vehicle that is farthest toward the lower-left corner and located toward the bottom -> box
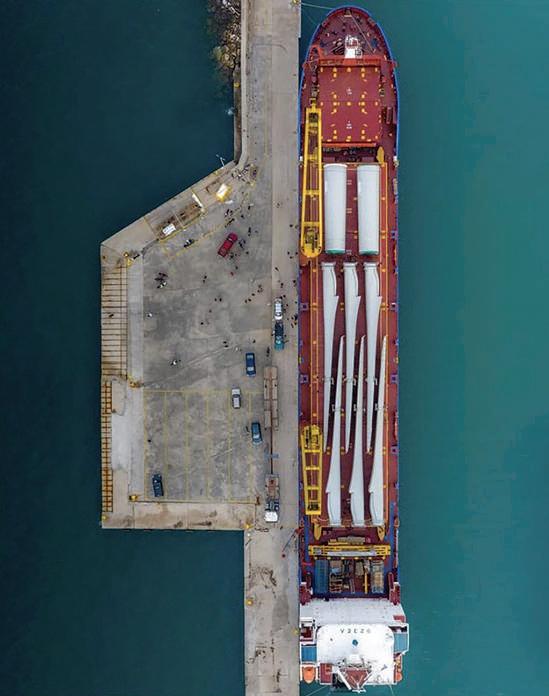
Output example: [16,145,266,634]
[151,474,163,499]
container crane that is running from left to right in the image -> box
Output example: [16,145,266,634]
[308,538,390,560]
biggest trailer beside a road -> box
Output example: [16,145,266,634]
[264,366,280,526]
